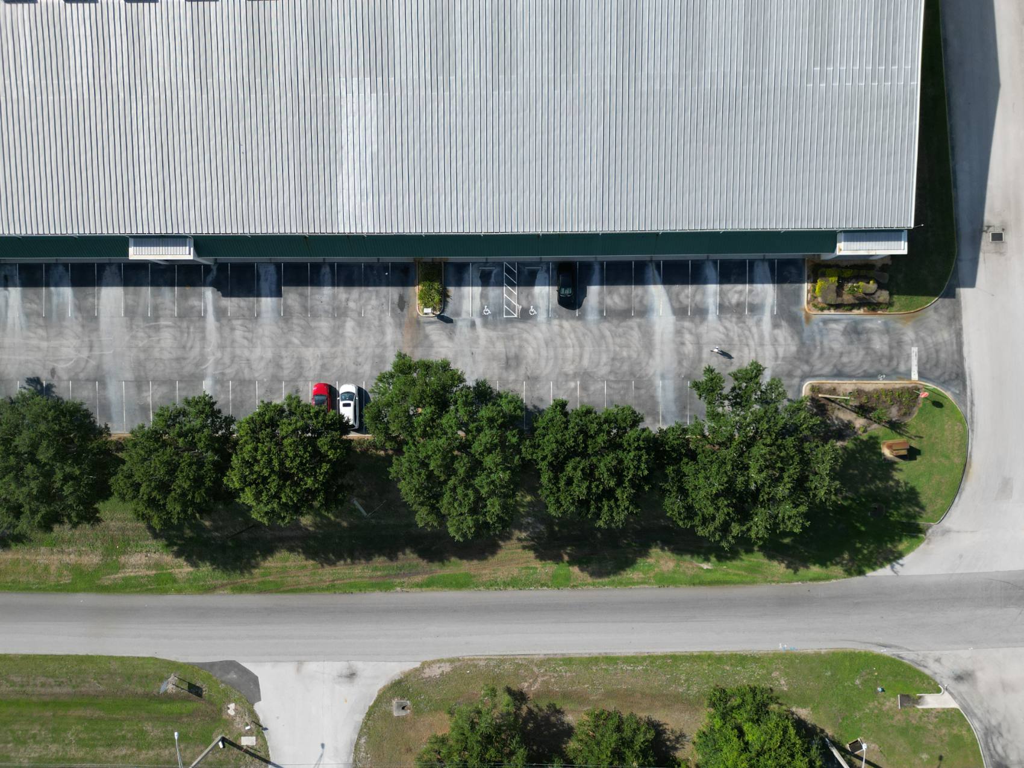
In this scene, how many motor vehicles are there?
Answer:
three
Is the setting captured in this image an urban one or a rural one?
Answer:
urban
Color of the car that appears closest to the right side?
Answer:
black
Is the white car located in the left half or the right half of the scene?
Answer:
left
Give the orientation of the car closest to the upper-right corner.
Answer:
from top to bottom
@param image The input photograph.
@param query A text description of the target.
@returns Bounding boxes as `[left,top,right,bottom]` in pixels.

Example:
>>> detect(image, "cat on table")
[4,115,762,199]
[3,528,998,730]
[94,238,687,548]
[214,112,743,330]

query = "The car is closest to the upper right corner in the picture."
[554,262,576,308]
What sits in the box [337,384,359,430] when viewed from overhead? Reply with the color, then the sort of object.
white car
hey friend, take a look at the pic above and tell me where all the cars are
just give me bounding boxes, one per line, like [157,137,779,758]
[310,383,332,427]
[337,384,359,430]
[554,262,576,308]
